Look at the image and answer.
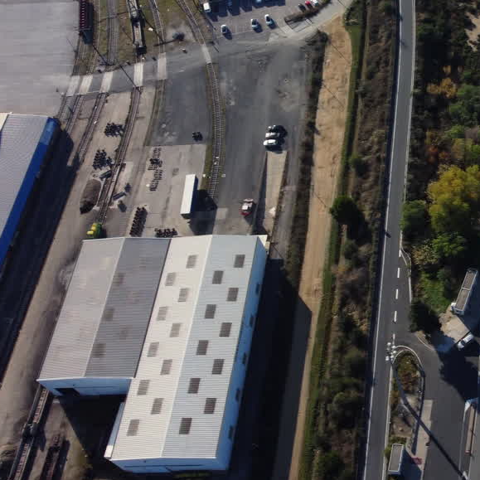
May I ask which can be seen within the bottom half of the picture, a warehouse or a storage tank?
warehouse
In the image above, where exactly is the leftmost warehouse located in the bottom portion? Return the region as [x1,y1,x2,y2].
[35,234,170,395]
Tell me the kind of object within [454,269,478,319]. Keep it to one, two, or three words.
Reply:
building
